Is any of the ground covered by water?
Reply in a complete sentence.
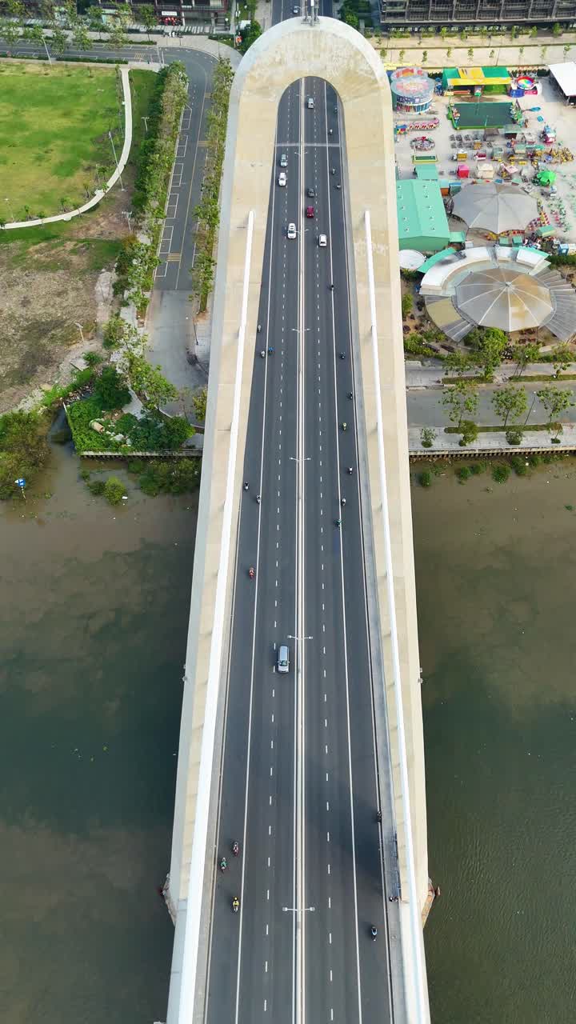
Yes, there's water in this view.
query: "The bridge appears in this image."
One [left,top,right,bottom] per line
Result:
[157,0,443,1024]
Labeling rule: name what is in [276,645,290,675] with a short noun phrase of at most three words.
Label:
vehicle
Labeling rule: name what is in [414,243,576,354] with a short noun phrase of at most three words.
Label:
building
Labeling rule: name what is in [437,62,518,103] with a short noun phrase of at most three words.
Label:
building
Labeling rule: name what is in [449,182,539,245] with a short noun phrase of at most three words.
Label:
tent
